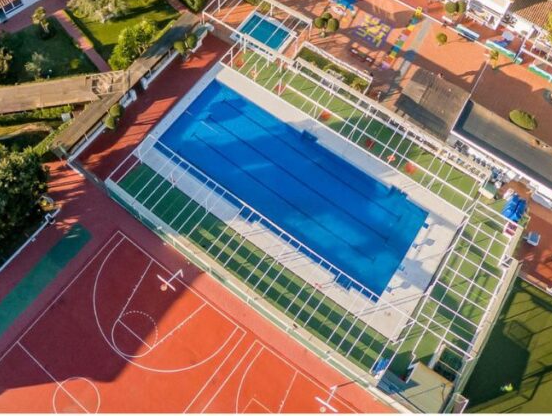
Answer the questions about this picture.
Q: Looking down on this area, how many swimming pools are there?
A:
2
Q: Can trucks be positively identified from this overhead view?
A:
No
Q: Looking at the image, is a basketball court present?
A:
Yes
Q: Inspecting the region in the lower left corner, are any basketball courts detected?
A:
Yes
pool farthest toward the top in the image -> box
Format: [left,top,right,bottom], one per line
[231,10,298,59]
